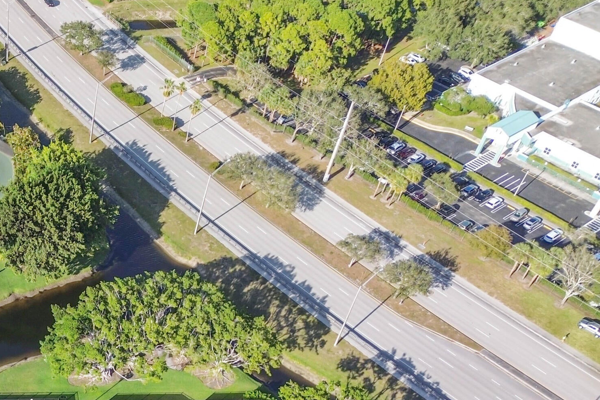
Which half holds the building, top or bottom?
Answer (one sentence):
Seen from above, the building lies in the top half of the view.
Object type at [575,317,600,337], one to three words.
vehicle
